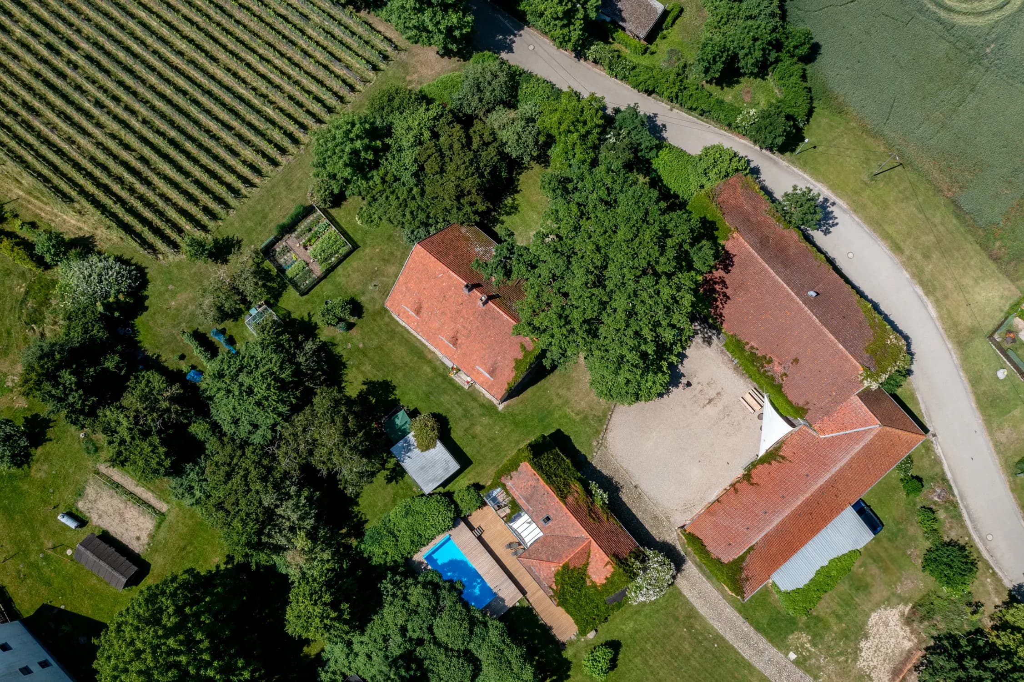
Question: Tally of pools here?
one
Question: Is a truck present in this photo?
No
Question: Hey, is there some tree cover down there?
Yes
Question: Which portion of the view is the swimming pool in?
bottom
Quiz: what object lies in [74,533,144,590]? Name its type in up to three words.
shed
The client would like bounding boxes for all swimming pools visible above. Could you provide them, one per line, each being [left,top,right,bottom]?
[414,518,523,618]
